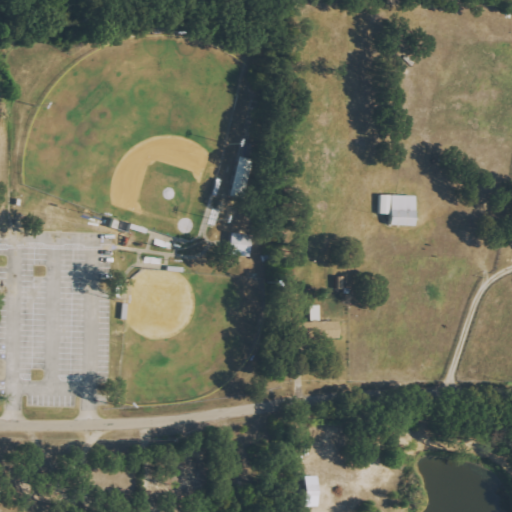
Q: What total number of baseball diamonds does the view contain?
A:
2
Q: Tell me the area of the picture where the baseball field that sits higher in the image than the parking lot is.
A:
top left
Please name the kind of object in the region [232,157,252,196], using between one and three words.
building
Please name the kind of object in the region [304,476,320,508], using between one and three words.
shed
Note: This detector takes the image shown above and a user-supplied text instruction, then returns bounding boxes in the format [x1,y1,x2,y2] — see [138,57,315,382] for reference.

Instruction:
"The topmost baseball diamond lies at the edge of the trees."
[22,34,244,241]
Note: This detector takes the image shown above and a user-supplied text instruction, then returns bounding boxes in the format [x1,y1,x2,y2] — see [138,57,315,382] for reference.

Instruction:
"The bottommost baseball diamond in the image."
[118,268,262,407]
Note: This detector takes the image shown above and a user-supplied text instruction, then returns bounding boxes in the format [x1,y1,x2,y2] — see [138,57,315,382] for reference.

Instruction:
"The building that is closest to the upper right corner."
[377,194,418,226]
